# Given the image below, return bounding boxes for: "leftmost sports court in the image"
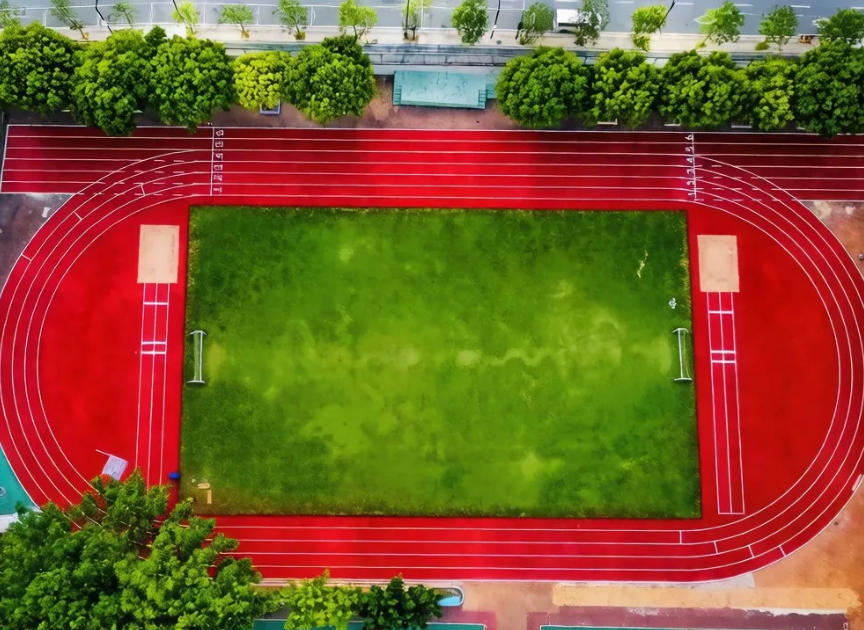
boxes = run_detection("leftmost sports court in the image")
[0,444,36,511]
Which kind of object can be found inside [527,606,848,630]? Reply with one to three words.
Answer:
sports court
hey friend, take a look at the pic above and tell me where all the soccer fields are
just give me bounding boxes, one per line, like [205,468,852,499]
[179,205,703,520]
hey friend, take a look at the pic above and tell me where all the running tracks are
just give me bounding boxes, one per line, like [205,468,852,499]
[0,124,864,583]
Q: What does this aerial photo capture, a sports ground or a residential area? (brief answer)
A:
sports ground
